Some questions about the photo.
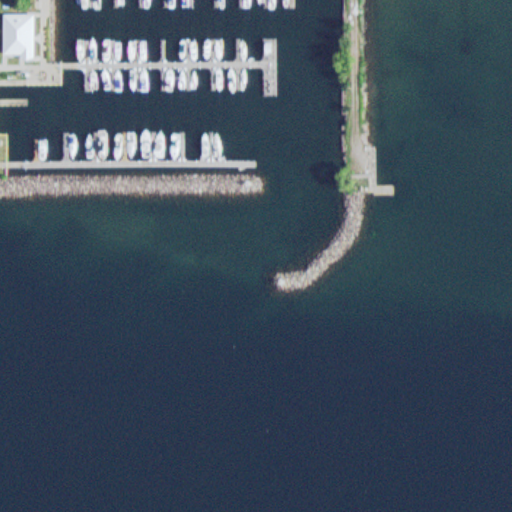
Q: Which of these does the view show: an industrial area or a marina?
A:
marina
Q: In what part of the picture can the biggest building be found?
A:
top left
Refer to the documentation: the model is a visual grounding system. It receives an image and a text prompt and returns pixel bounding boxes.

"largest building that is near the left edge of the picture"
[2,12,33,61]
